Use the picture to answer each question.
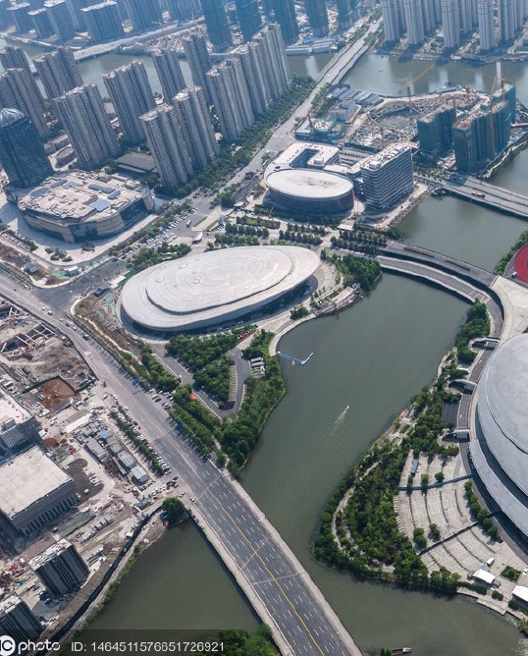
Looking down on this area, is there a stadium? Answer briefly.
Yes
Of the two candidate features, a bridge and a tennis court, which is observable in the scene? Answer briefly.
bridge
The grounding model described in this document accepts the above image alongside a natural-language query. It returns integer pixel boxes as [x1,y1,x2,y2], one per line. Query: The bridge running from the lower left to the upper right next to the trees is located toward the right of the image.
[308,46,370,102]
